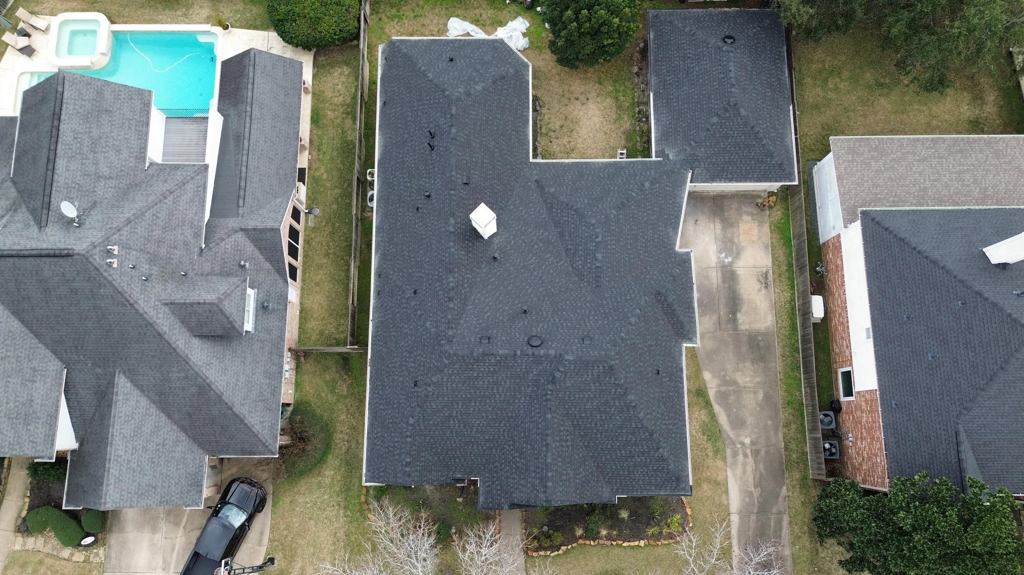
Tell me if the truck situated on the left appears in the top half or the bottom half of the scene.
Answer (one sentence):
You can find the truck situated on the left in the bottom half.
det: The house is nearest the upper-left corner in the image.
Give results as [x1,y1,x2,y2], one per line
[0,48,313,511]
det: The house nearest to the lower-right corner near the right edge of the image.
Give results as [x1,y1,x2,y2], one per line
[812,134,1024,502]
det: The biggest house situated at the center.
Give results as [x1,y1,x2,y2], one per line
[361,8,799,510]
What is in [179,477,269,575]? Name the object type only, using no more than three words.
truck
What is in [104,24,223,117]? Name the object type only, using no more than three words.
swimming pool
